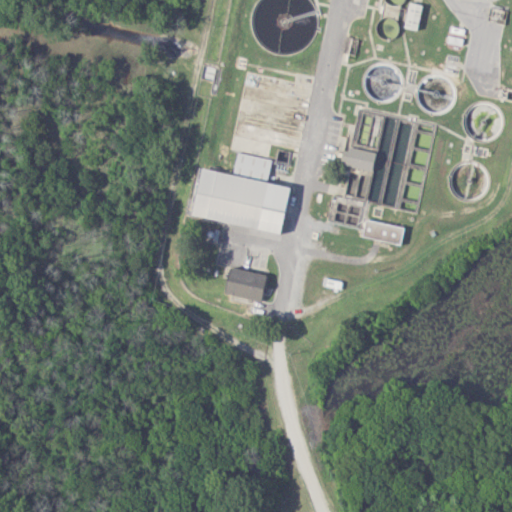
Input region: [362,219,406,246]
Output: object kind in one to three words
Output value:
building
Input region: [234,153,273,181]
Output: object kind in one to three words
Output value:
building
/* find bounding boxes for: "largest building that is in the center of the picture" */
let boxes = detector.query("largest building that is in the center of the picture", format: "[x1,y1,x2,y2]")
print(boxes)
[191,168,292,234]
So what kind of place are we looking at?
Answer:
industrial area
